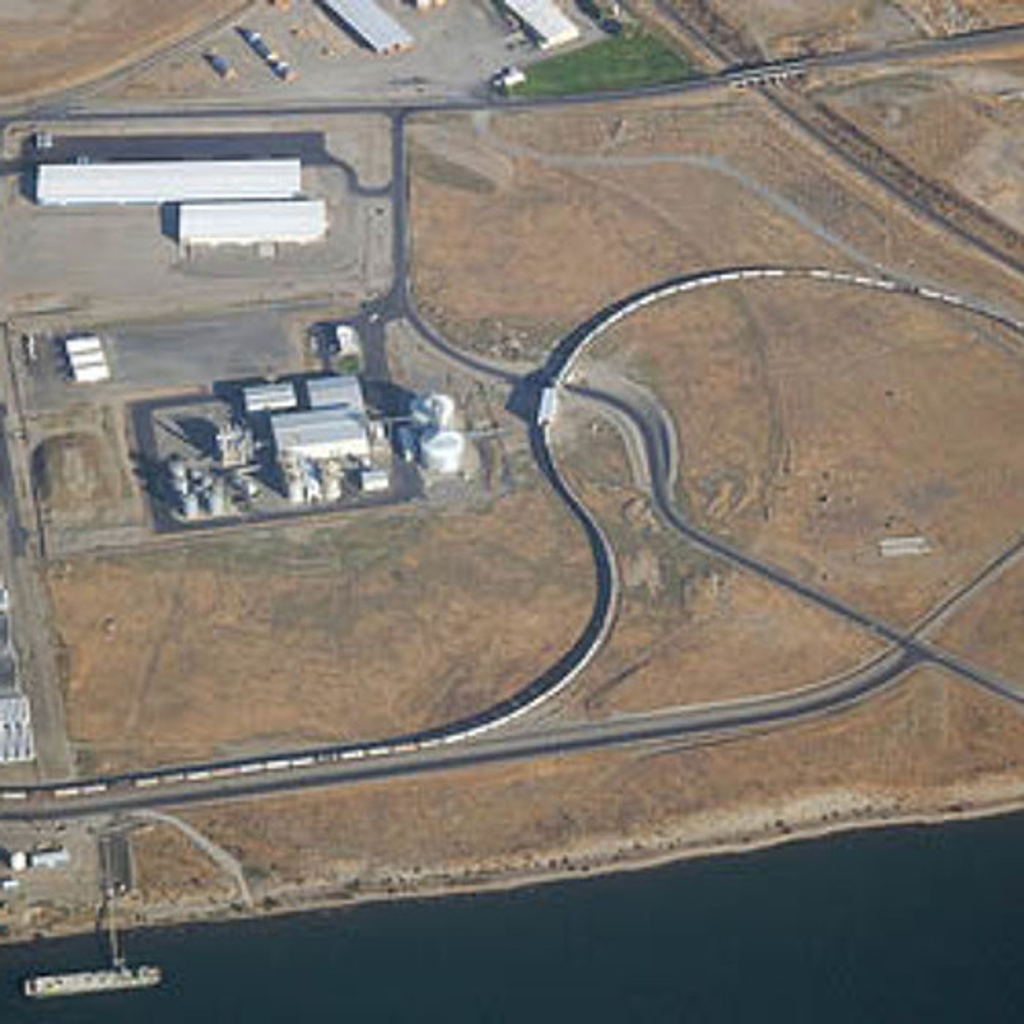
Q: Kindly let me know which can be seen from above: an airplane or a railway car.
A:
railway car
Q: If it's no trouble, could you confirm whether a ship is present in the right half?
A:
No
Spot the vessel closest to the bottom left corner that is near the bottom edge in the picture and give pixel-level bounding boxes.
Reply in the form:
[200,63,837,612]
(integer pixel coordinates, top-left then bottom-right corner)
[26,970,159,1000]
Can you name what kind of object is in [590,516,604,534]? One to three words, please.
rail car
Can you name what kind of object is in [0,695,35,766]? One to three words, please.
building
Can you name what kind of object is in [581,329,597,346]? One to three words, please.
rail car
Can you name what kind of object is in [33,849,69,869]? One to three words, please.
shed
